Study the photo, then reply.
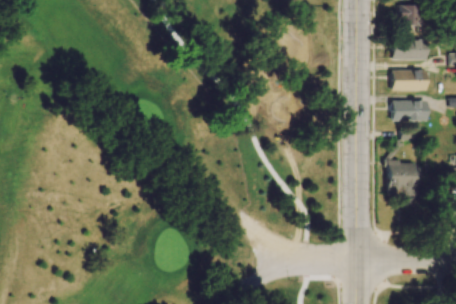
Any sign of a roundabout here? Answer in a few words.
No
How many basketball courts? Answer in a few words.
zero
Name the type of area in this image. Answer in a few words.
golf course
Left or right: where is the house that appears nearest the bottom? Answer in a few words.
right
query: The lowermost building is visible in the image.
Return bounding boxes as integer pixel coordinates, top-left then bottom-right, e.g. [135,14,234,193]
[387,161,420,197]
